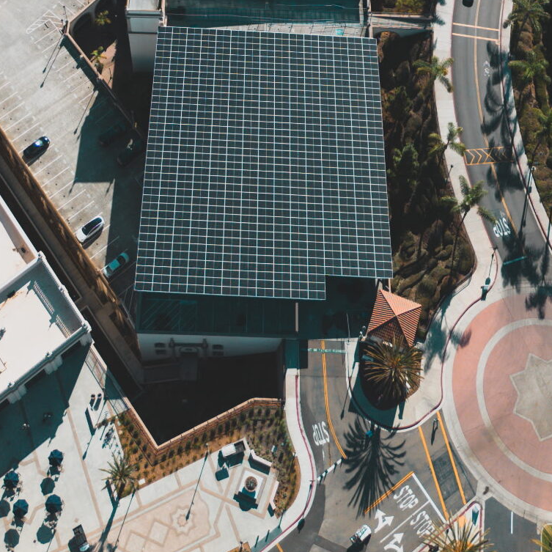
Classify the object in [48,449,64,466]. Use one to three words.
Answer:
umbrella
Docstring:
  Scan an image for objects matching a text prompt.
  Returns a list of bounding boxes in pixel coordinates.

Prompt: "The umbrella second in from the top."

[2,471,20,489]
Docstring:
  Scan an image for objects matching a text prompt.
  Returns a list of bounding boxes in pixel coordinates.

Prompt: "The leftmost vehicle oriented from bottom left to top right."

[22,136,49,158]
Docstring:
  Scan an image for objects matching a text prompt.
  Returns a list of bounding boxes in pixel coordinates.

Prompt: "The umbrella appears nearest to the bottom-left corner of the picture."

[12,500,29,518]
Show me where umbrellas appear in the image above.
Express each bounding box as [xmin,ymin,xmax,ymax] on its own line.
[12,500,29,518]
[48,449,64,466]
[2,471,20,489]
[45,494,63,514]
